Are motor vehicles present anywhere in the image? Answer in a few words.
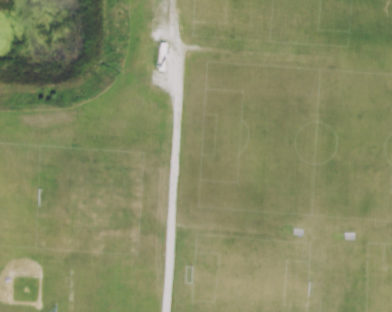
No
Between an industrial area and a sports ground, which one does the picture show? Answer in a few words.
sports ground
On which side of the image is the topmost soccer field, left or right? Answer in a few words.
right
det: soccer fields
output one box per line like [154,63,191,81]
[0,142,40,250]
[38,146,145,254]
[199,62,392,222]
[192,235,311,312]
[194,0,353,48]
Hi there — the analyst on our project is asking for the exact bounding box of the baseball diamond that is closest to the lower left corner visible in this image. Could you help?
[0,258,44,310]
